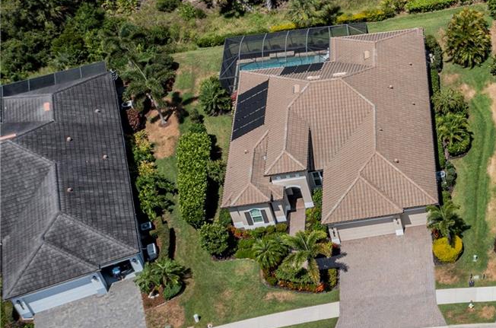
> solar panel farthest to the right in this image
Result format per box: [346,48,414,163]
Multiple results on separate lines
[280,63,324,76]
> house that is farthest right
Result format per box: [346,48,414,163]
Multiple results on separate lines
[221,25,440,242]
